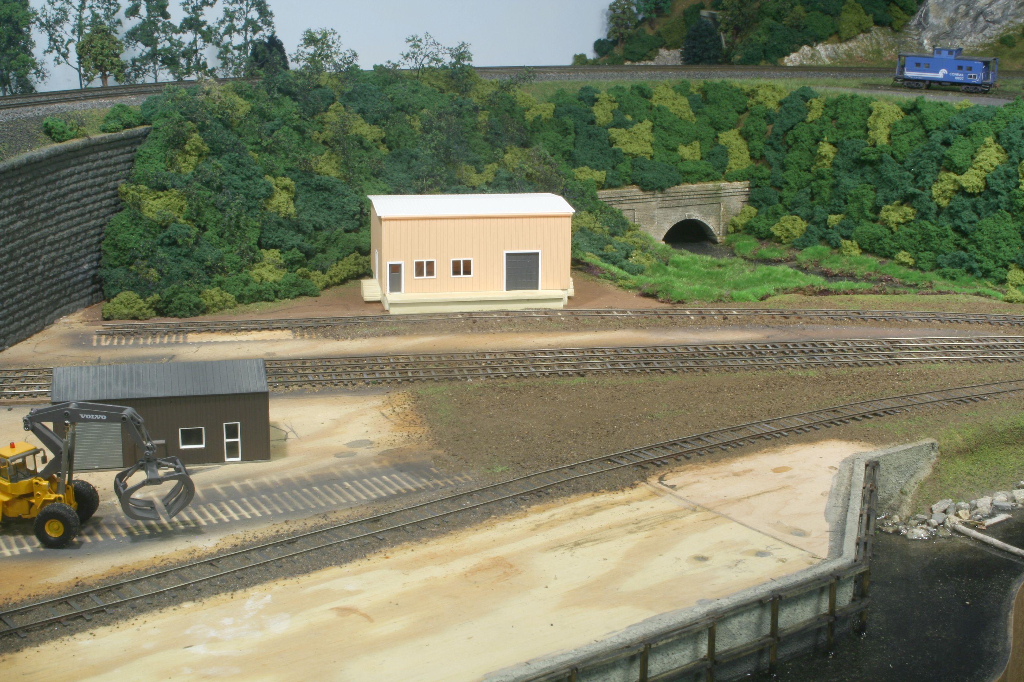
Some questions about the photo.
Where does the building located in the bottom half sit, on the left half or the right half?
left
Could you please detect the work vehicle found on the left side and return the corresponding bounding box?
[0,401,195,548]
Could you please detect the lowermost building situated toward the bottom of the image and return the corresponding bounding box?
[51,354,272,474]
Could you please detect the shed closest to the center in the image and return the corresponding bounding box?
[363,192,576,314]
